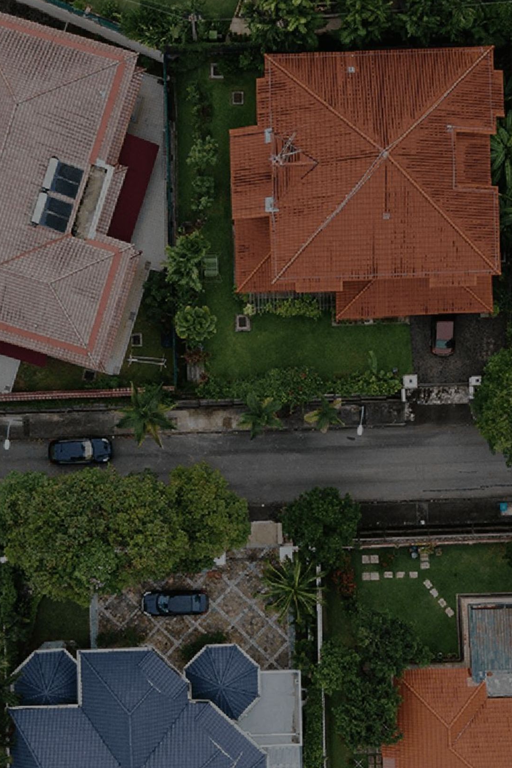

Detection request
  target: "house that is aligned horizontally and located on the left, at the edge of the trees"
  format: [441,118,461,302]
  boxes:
[5,634,308,768]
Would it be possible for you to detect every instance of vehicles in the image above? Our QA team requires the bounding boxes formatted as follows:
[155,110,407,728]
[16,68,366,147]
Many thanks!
[45,435,115,468]
[428,315,458,358]
[141,587,211,621]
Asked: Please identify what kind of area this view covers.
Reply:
residential area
